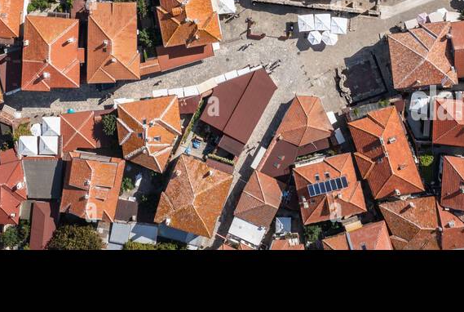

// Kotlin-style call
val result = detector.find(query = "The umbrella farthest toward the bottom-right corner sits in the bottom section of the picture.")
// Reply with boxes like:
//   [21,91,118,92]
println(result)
[276,216,292,232]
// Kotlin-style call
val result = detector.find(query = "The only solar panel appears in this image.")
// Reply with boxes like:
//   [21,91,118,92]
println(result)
[308,176,348,196]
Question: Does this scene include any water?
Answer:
No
